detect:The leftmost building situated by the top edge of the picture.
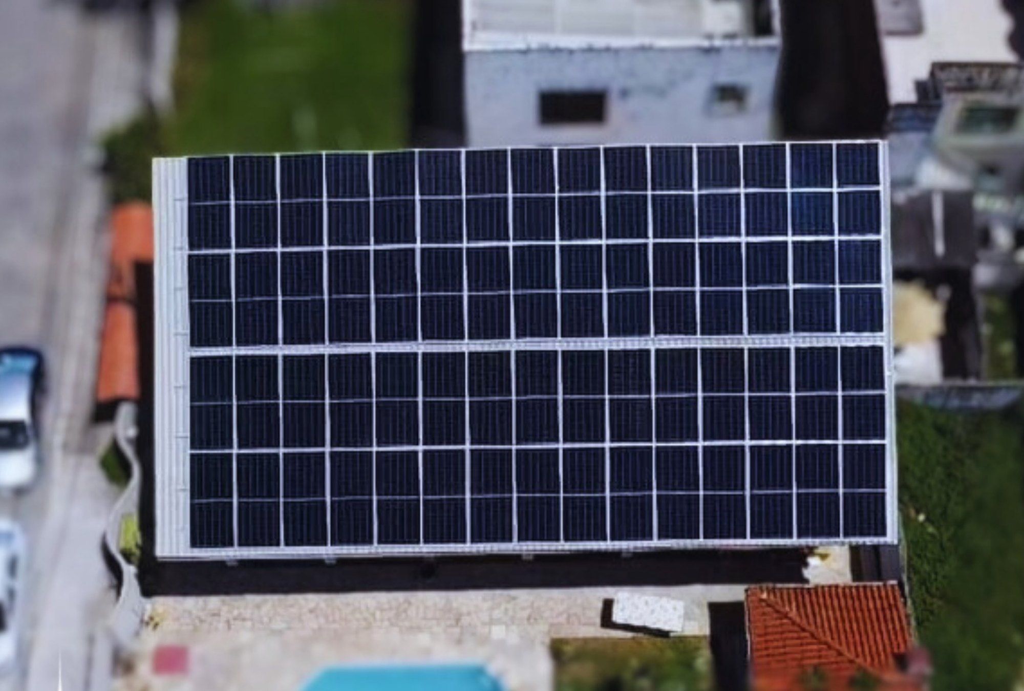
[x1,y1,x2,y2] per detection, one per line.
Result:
[463,0,781,144]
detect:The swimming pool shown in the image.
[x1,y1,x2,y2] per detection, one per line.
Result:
[294,659,512,691]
